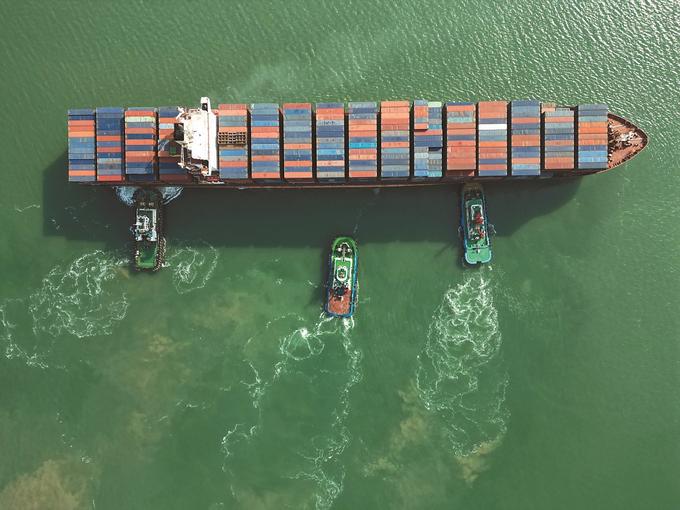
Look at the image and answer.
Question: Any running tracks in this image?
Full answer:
No, I can see no running track in this picture.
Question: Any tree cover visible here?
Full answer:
No, the picture contains no tree cover.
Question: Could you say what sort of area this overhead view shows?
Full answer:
What you see here is a port.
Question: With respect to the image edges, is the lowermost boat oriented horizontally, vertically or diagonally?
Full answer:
From this overhead view, the lowermost boat appears to run vertically.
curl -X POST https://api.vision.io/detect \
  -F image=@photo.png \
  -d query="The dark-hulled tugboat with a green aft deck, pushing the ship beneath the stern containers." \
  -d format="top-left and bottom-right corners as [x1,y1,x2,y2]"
[132,188,165,271]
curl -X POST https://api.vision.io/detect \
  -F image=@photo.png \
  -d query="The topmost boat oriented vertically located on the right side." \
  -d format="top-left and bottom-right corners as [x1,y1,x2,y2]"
[460,184,491,266]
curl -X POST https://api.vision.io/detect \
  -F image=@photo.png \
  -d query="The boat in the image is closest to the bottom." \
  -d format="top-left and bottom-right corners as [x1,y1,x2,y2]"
[325,235,359,319]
